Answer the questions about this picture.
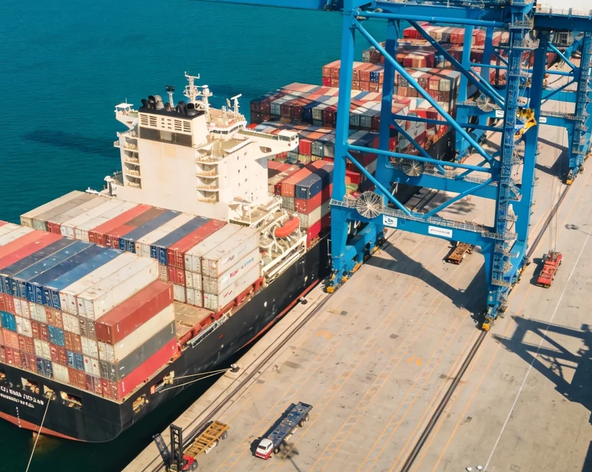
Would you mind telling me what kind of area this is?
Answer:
port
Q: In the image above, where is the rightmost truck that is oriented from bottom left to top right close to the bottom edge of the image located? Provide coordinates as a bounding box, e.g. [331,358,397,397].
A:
[249,402,313,464]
